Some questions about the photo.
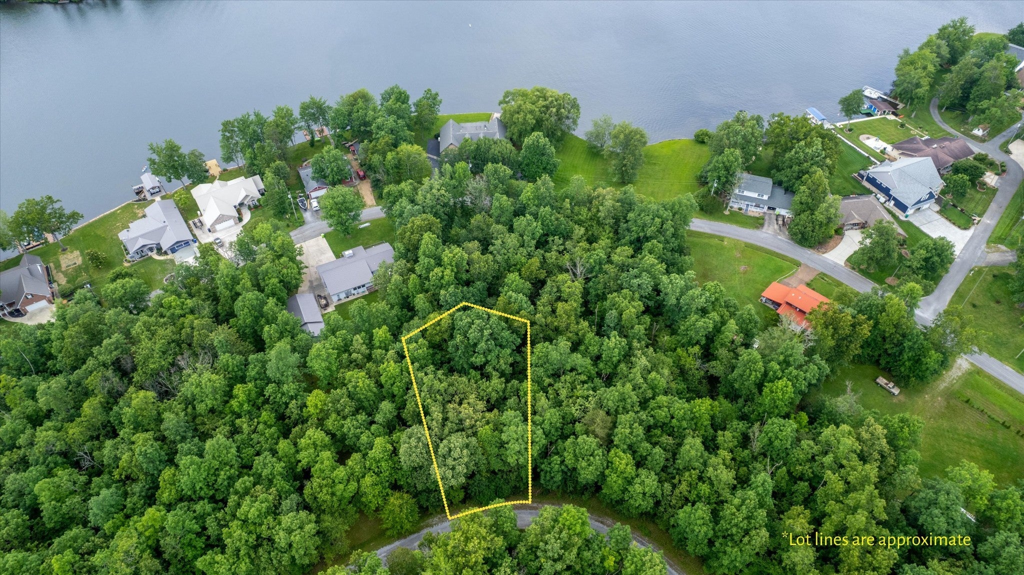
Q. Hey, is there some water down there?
Yes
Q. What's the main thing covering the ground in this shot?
trees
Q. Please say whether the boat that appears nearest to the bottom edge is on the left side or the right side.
left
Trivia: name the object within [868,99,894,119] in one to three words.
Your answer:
building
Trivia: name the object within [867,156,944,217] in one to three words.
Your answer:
house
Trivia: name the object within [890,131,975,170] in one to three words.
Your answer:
house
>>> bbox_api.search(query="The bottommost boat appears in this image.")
[312,287,332,308]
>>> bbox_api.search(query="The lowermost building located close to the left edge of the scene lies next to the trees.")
[0,254,54,316]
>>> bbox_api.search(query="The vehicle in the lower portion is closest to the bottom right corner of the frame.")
[874,373,904,395]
